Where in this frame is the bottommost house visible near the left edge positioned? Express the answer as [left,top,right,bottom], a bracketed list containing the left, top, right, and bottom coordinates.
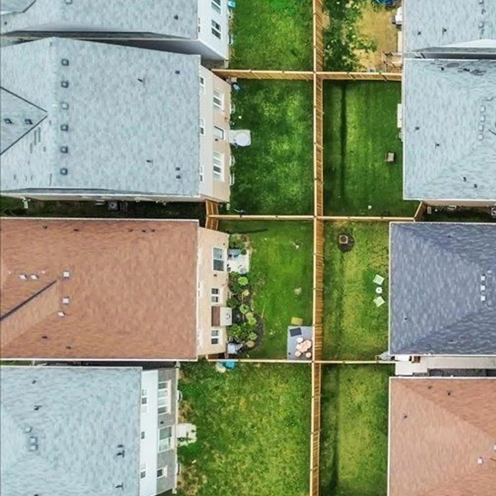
[0,367,179,496]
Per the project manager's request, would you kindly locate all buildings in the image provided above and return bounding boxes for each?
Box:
[390,222,496,358]
[400,59,496,208]
[0,219,240,360]
[388,377,496,496]
[0,38,231,205]
[0,367,179,496]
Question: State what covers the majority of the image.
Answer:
buildings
